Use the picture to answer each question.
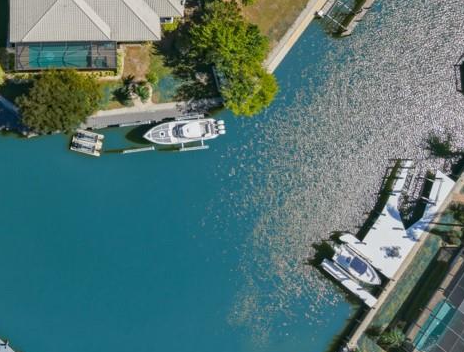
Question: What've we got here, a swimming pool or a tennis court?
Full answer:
Looking from above, you can make out a swimming pool.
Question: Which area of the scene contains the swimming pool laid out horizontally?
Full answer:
The swimming pool laid out horizontally is in the top left part of the image.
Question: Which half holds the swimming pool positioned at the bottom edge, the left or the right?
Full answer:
The swimming pool positioned at the bottom edge sits on the right side.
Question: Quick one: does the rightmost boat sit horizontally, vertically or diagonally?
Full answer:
What the image shows is the rightmost boat lying diagonally.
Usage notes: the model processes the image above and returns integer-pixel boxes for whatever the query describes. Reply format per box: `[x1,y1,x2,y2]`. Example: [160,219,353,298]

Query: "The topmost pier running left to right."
[81,101,225,131]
